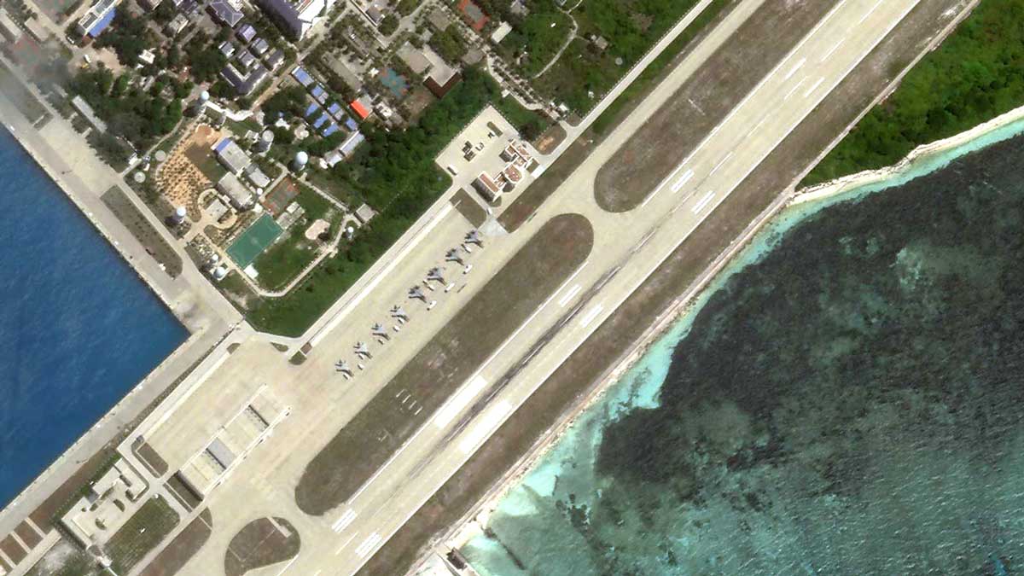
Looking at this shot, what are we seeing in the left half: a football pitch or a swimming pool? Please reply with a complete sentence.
The feature located in the left half is a football pitch.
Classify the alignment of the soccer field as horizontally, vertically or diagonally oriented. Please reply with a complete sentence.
Seen from above, the soccer field lies diagonally.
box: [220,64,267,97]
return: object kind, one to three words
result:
house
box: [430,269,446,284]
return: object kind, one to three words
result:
airplane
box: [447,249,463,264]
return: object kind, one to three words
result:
airplane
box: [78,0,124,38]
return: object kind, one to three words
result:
building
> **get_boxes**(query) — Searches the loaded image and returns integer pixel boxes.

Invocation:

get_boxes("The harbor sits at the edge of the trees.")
[0,50,244,541]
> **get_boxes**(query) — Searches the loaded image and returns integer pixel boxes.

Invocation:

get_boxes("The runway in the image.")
[279,0,921,576]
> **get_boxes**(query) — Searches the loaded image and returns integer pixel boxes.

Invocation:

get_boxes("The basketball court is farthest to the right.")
[457,0,490,30]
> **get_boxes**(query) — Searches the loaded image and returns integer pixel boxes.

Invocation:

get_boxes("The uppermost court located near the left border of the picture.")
[41,0,83,22]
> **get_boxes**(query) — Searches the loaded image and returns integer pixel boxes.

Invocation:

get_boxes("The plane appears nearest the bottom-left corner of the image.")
[336,360,353,375]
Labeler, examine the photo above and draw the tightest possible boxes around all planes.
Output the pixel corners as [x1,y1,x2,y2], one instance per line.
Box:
[392,305,408,320]
[430,269,446,284]
[447,249,463,264]
[410,285,425,301]
[466,231,482,246]
[336,360,353,375]
[373,323,389,338]
[356,342,371,357]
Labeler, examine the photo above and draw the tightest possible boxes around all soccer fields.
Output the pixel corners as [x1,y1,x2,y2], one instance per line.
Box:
[225,213,282,267]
